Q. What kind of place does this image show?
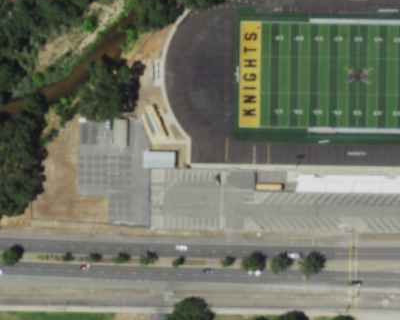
sports ground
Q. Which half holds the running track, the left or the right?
right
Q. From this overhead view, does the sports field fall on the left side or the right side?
right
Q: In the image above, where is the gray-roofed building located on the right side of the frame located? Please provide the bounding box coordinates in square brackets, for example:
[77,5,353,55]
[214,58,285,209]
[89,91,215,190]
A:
[228,170,258,190]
